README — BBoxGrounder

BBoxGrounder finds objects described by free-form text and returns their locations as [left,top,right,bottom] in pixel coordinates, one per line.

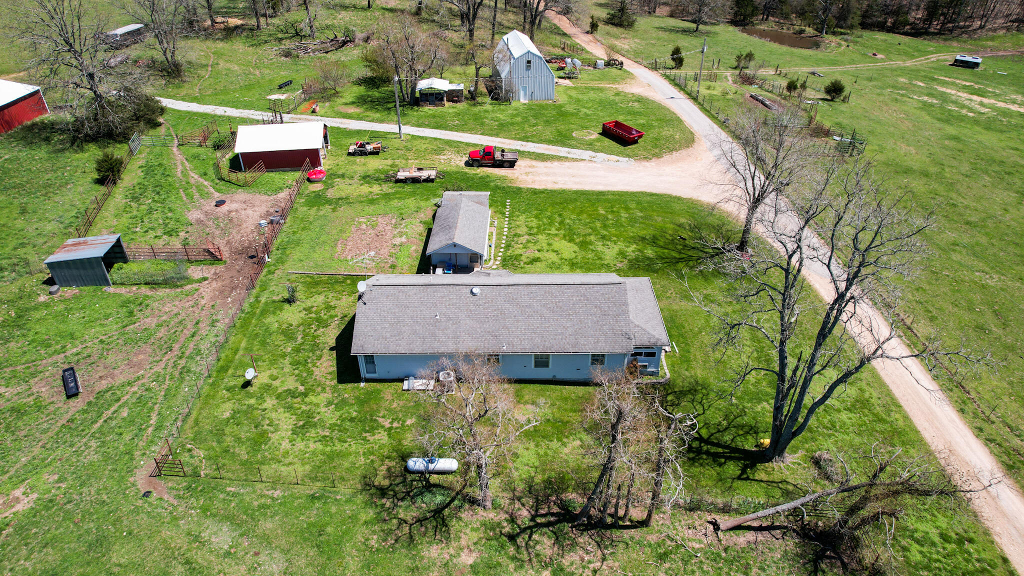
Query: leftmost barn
[0,69,50,133]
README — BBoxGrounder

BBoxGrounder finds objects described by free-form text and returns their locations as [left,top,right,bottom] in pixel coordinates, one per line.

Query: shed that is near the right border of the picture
[953,50,986,70]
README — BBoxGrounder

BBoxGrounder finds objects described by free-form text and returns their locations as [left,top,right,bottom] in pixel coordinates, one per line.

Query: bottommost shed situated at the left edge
[40,231,133,286]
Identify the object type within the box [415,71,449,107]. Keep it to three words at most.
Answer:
building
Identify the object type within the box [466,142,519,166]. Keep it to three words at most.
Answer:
truck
